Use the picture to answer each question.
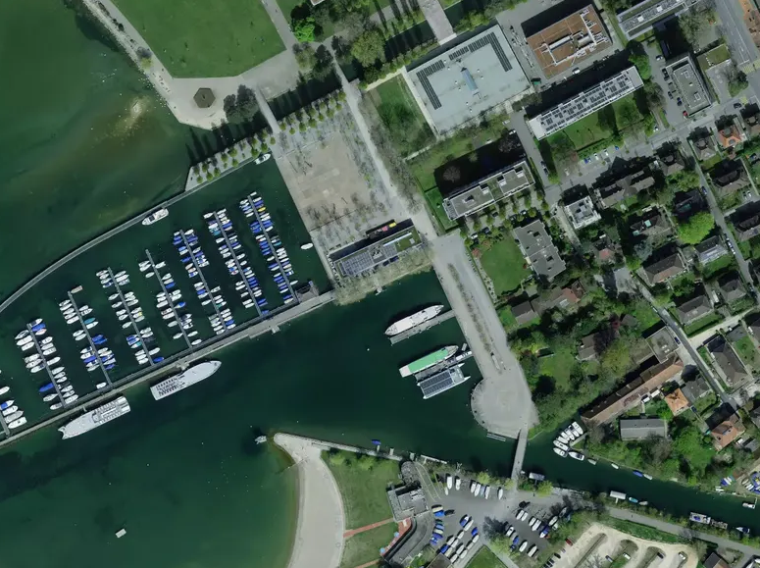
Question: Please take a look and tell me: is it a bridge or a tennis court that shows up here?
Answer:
bridge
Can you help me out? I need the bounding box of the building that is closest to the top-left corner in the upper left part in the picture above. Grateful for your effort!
[194,89,215,107]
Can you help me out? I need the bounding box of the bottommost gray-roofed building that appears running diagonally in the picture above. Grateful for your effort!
[385,512,437,568]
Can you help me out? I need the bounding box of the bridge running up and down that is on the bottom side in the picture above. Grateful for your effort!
[512,423,530,492]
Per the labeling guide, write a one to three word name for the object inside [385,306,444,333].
ship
